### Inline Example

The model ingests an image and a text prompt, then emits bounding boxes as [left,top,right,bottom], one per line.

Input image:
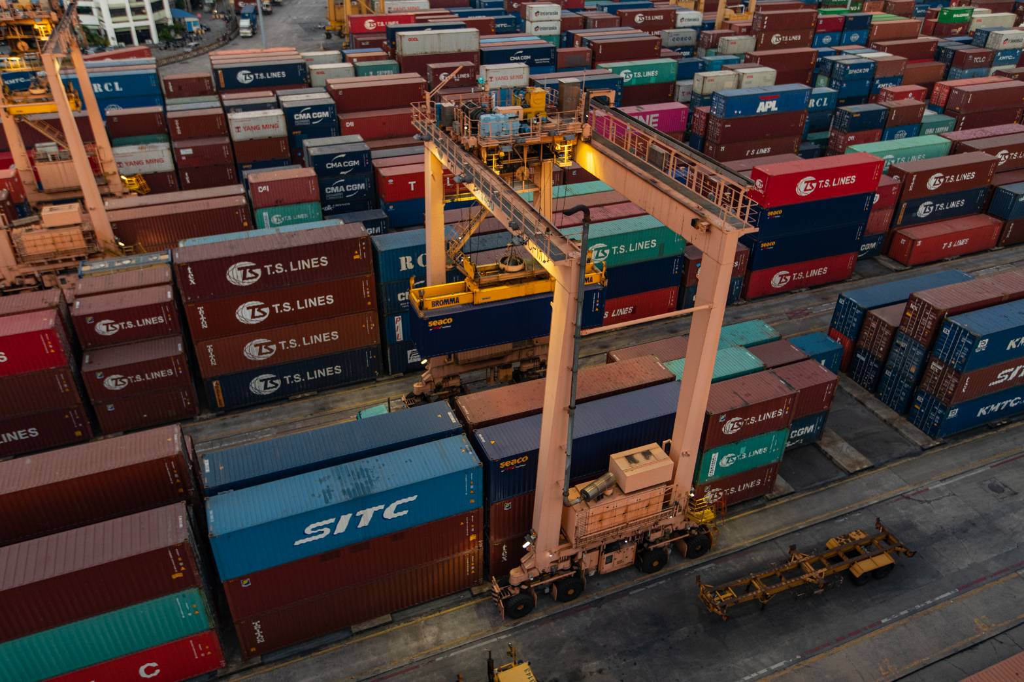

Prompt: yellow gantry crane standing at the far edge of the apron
[324,0,387,49]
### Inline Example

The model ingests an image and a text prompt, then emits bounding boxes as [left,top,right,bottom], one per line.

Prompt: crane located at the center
[394,46,777,625]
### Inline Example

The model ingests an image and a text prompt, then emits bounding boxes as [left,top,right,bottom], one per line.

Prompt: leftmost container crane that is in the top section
[0,0,148,283]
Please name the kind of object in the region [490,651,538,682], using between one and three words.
vehicle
